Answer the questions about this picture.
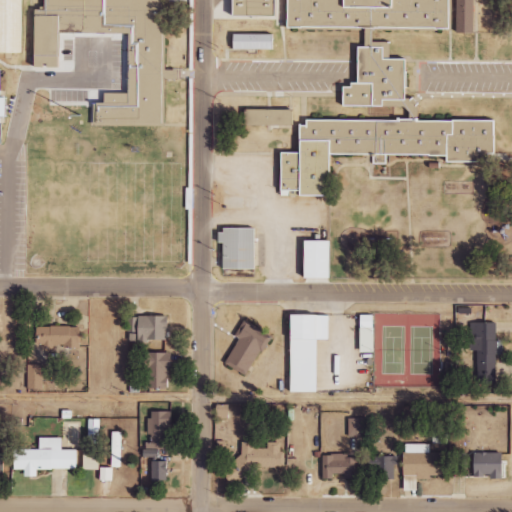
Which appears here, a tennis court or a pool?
tennis court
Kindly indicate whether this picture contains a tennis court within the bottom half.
Yes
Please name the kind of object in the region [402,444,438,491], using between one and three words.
house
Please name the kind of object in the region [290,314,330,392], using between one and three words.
building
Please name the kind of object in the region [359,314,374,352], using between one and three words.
building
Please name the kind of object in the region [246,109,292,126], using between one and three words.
shed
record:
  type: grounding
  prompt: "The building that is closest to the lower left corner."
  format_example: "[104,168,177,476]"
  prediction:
[14,437,78,477]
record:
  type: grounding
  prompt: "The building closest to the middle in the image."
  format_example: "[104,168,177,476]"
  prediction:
[218,228,258,276]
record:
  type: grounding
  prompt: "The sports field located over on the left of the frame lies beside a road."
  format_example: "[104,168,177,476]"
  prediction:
[56,161,184,264]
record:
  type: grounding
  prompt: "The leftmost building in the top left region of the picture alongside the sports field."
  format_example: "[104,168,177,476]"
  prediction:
[34,0,164,124]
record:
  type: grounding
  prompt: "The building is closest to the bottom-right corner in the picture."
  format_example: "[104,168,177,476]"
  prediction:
[474,452,508,478]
